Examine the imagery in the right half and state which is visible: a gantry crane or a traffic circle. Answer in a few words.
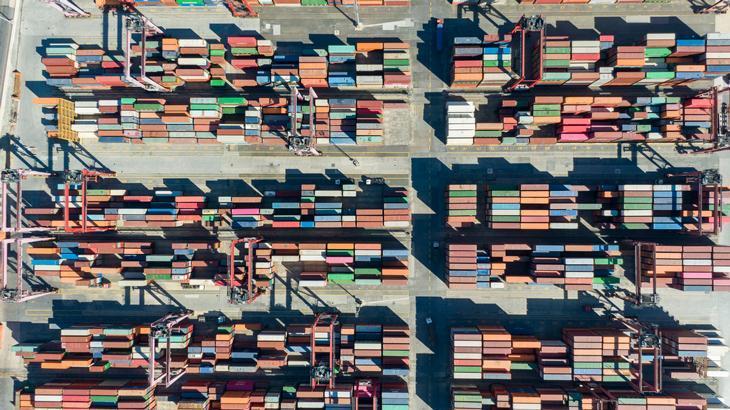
gantry crane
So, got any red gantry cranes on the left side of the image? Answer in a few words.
Yes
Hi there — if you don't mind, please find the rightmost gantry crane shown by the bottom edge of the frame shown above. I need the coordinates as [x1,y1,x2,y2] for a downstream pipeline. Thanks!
[603,313,662,393]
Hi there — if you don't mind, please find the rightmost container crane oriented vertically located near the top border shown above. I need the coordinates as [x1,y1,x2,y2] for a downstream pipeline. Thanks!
[498,14,545,100]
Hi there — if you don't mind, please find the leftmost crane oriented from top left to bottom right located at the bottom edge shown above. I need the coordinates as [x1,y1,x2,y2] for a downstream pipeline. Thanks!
[565,379,620,410]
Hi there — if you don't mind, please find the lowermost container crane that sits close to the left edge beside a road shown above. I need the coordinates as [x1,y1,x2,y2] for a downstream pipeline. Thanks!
[0,231,66,304]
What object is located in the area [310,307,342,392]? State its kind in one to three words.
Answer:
container crane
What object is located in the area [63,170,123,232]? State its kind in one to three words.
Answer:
container crane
